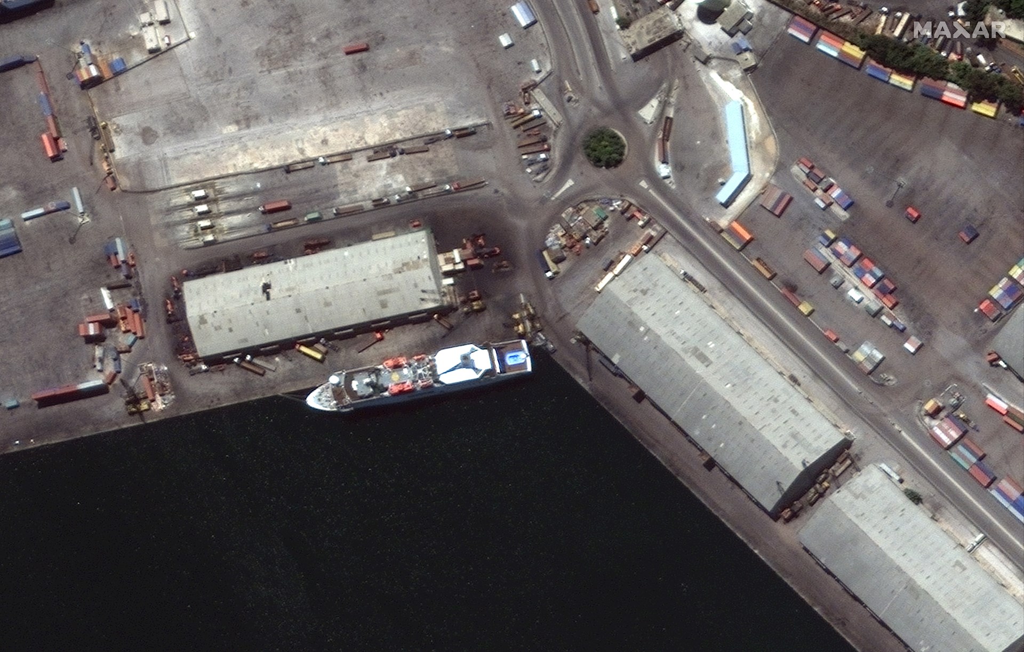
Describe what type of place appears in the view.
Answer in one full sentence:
This looks like a port.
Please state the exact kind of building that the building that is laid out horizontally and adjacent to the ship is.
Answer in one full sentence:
From above, the building that is laid out horizontally and adjacent to the ship can be identified as a warehouse.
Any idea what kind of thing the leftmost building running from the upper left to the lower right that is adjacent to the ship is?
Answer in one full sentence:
The leftmost building running from the upper left to the lower right that is adjacent to the ship in the image is a warehouse.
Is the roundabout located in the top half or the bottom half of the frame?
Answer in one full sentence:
Seen from above, the roundabout lies in the top half of the view.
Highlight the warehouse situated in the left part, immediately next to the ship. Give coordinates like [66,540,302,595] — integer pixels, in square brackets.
[183,230,449,360]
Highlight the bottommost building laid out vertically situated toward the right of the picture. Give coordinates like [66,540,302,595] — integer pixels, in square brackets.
[986,304,1024,385]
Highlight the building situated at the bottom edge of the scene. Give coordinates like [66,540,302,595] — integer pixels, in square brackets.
[798,463,1024,652]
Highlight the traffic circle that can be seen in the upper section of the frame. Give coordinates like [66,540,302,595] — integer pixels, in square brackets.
[566,109,645,188]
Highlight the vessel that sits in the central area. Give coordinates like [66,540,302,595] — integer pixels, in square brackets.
[306,340,533,412]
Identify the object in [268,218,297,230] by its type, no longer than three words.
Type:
vehicle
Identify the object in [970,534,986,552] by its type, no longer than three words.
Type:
vehicle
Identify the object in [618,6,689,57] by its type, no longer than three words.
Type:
house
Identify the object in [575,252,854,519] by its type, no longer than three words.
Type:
warehouse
